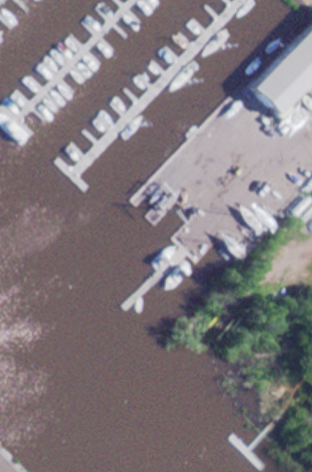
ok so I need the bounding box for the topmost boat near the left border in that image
[0,7,16,24]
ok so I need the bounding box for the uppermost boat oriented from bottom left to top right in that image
[234,0,256,20]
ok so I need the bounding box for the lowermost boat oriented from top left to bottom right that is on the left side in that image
[67,146,83,161]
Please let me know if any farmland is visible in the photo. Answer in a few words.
No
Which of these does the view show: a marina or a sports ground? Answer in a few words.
marina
